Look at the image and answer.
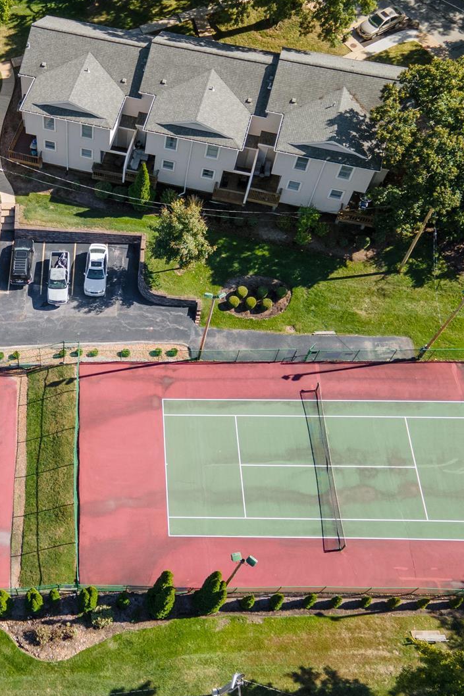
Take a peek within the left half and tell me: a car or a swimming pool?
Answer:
car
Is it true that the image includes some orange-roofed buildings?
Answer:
No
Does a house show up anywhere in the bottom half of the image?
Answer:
No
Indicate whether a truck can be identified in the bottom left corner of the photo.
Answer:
No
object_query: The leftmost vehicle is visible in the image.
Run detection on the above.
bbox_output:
[8,239,35,287]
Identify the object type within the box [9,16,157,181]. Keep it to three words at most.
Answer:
house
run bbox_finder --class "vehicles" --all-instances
[83,244,110,293]
[55,250,63,267]
[8,239,35,287]
[43,249,72,302]
[359,10,407,41]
